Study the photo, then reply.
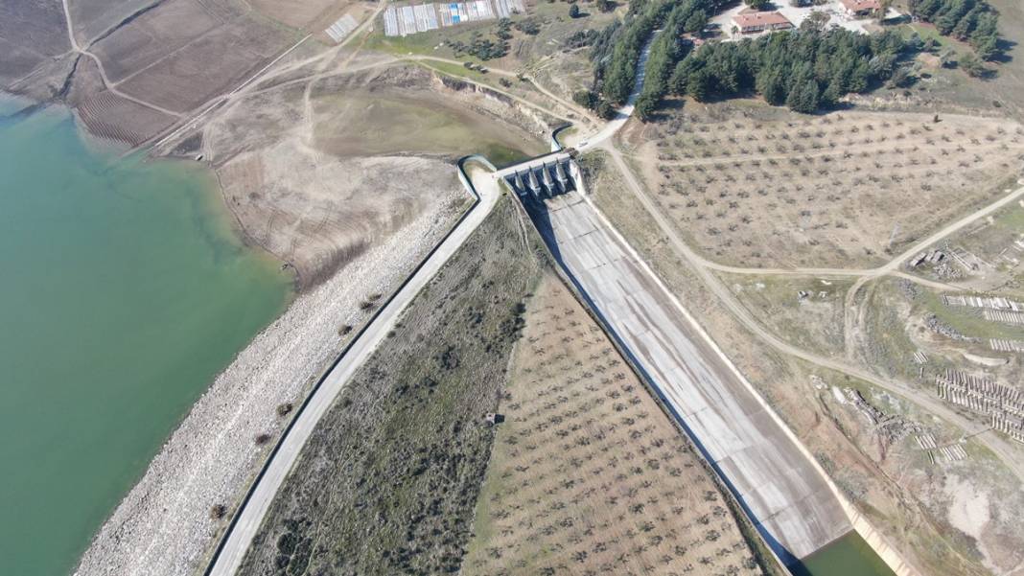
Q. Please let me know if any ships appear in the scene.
No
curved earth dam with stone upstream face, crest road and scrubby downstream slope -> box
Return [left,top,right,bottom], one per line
[78,155,564,576]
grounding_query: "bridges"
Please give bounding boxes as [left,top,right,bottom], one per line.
[497,148,572,179]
